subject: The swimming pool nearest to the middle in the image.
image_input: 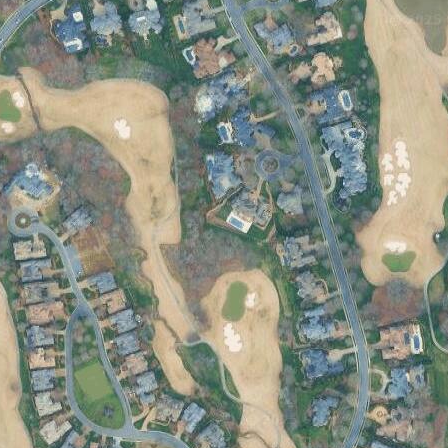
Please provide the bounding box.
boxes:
[226,211,253,232]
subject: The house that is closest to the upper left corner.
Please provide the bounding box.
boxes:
[51,1,91,50]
